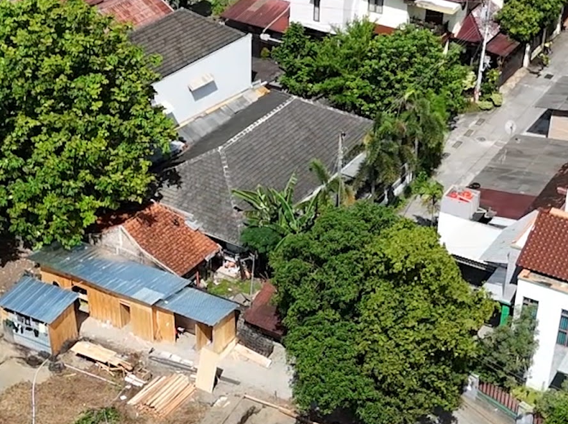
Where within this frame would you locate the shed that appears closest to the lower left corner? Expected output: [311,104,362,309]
[0,276,79,357]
